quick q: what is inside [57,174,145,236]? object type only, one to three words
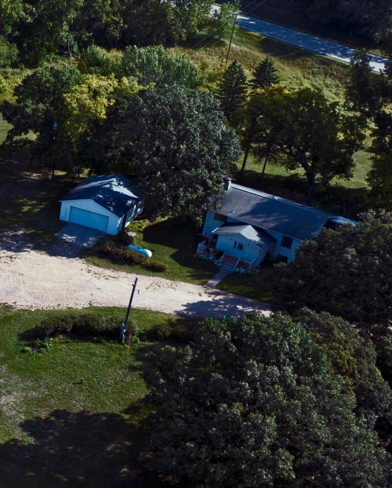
building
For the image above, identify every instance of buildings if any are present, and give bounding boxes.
[57,174,145,236]
[191,174,362,271]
